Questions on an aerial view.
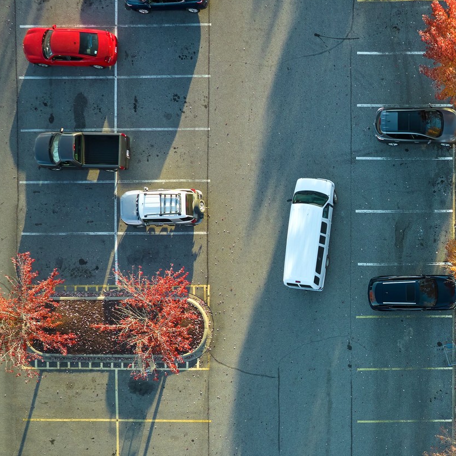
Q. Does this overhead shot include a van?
Yes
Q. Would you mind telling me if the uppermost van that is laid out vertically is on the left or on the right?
right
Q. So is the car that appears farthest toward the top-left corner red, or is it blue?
red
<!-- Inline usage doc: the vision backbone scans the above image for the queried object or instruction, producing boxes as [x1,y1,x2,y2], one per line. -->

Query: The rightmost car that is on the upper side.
[374,101,456,147]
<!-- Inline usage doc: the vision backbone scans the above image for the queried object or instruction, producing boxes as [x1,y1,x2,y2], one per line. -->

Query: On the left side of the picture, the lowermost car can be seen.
[118,184,210,229]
